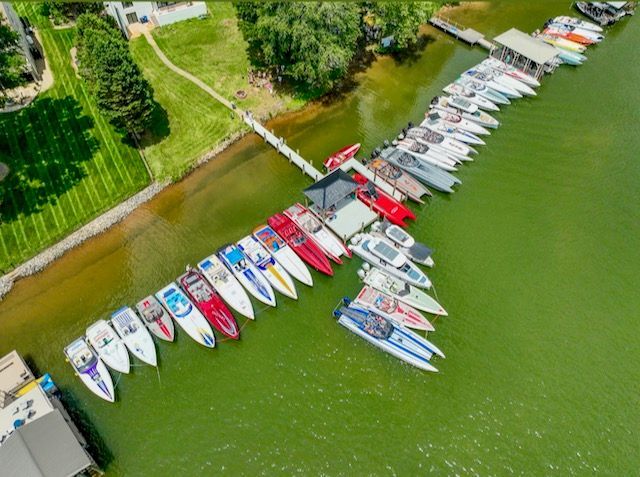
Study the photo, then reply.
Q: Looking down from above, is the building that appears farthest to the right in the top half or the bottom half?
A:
top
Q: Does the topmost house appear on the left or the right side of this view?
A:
left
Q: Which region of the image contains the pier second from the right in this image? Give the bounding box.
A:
[288,158,405,243]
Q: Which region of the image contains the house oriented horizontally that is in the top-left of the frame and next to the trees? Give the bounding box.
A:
[102,0,188,36]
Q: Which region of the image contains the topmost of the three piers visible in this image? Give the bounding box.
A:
[429,15,494,49]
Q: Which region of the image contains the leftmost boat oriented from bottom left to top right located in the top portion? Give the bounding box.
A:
[322,143,360,173]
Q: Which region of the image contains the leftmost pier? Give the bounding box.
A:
[244,109,329,183]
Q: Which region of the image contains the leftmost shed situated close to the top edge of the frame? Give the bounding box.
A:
[4,0,44,89]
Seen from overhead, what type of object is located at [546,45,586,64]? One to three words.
boat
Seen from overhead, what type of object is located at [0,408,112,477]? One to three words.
building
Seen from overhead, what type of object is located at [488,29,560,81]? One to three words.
building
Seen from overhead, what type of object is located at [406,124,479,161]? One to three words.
boat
